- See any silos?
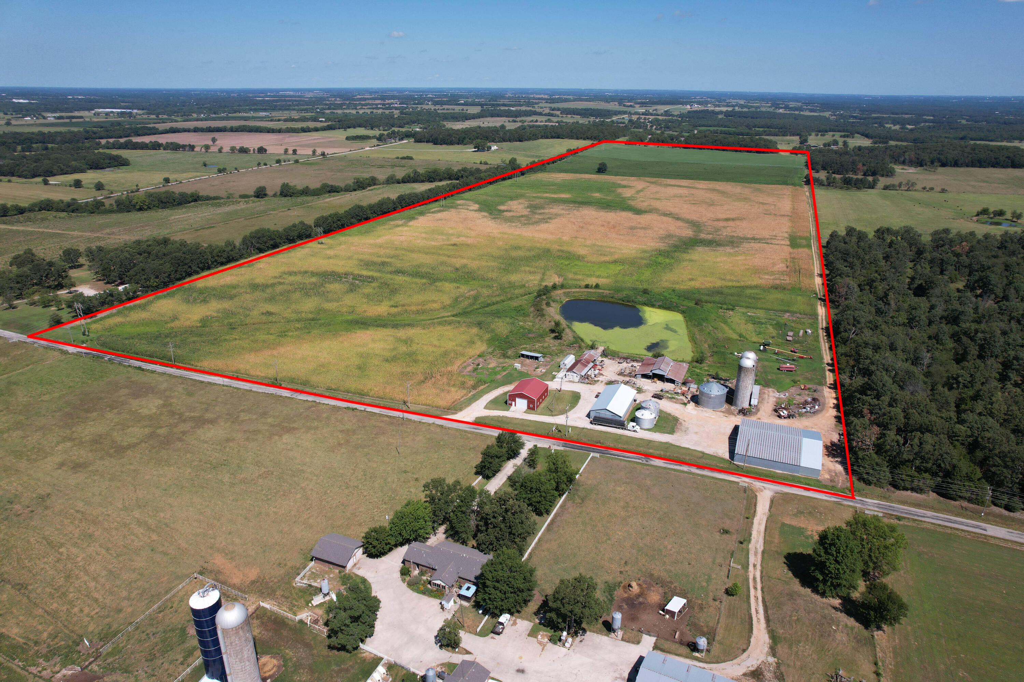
Yes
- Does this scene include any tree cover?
Yes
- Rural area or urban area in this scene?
rural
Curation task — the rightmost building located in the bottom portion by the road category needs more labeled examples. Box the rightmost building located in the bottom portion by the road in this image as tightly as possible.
[733,418,823,479]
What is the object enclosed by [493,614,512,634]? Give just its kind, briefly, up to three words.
vehicle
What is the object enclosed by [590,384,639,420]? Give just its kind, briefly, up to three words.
shed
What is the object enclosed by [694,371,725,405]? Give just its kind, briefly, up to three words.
silo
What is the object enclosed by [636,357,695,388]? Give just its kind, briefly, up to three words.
barn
